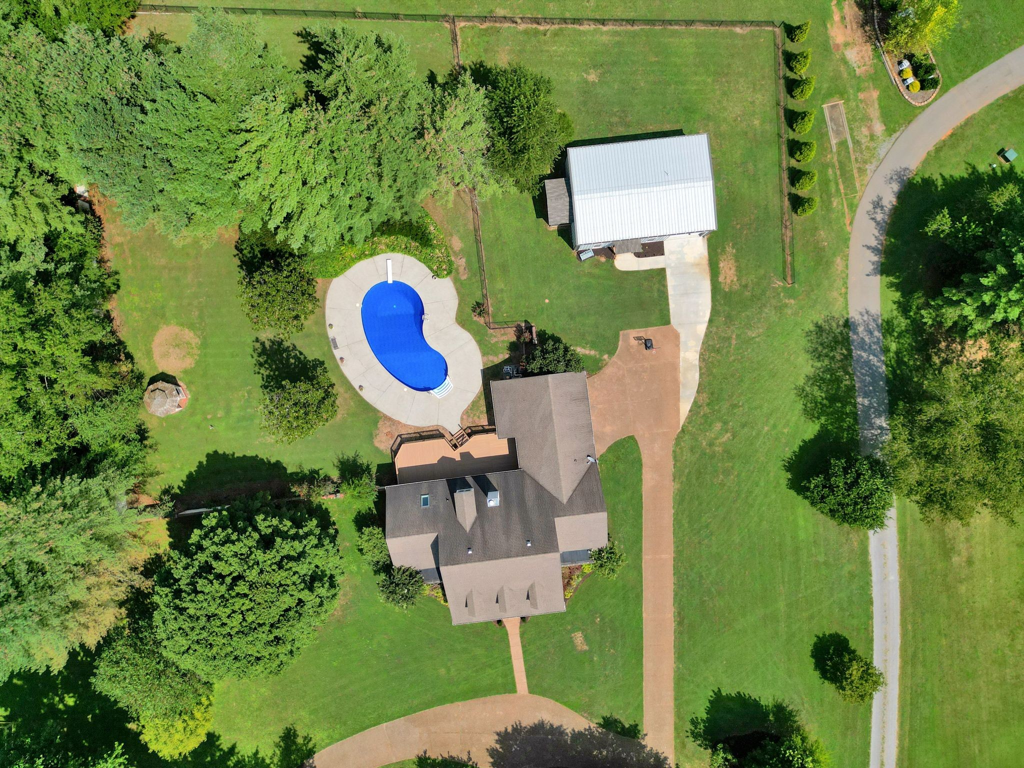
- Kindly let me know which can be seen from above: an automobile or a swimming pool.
swimming pool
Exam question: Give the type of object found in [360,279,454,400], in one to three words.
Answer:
swimming pool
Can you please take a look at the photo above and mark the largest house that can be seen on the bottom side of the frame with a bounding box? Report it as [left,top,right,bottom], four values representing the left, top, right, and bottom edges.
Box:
[385,369,609,626]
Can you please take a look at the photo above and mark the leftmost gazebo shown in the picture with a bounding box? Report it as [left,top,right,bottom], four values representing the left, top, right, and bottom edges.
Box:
[144,381,188,417]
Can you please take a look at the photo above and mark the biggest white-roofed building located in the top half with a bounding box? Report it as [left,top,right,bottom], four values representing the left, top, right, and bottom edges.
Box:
[566,132,721,260]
